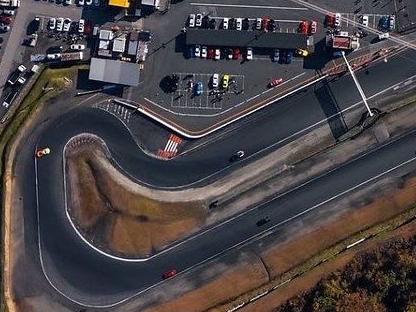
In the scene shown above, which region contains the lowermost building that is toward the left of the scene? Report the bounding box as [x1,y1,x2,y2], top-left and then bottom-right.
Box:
[89,57,142,86]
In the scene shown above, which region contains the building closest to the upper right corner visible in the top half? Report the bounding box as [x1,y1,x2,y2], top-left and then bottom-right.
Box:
[325,33,360,51]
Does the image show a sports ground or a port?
sports ground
